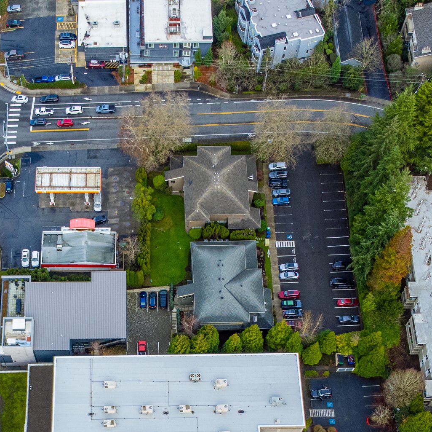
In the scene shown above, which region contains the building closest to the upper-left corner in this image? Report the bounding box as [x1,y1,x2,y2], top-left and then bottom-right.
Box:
[77,0,128,63]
